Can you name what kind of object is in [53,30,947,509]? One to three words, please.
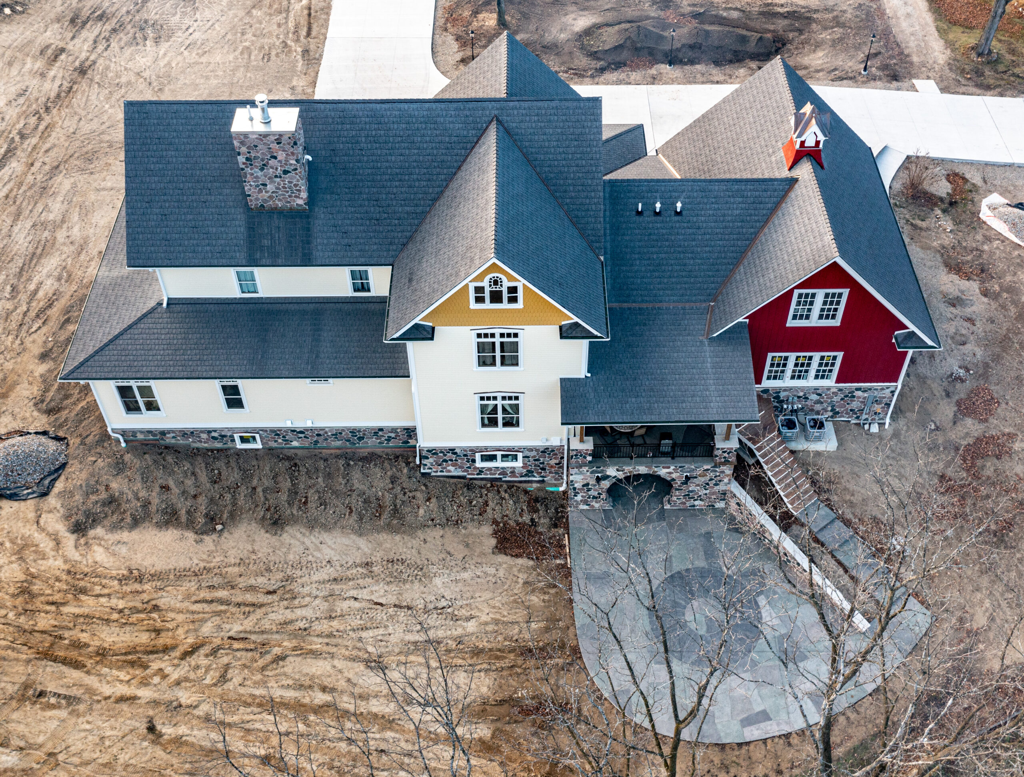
house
